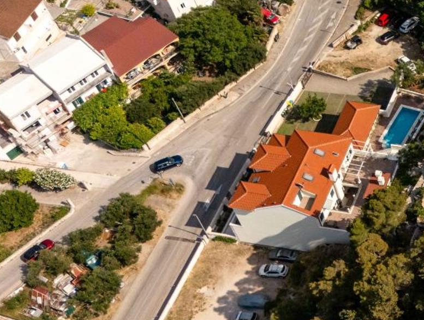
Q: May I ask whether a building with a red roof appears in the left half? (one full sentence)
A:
Yes, a building with a red roof is visible in the left half.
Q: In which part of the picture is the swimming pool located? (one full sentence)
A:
The swimming pool sits in the right section of the image.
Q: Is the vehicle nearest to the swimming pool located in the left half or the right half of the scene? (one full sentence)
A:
The vehicle nearest to the swimming pool sits on the right side.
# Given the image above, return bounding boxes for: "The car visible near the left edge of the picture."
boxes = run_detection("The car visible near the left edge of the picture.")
[20,238,56,262]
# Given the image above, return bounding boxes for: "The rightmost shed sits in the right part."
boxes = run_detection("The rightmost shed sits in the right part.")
[368,166,390,201]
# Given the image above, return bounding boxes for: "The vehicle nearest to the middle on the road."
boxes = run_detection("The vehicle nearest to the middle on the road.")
[151,155,184,174]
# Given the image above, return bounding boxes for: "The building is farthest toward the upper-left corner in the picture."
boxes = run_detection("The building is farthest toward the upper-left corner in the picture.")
[0,0,55,63]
